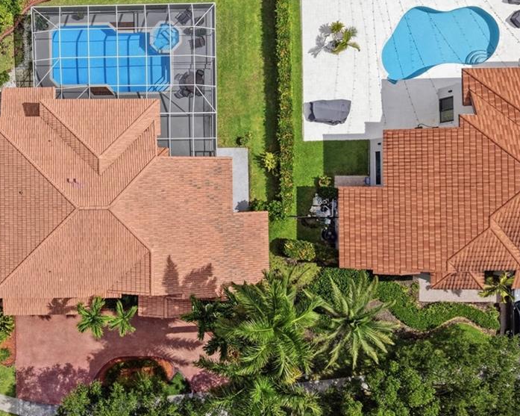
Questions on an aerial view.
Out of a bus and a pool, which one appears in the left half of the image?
pool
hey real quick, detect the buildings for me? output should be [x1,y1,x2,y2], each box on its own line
[333,67,520,291]
[0,88,269,319]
